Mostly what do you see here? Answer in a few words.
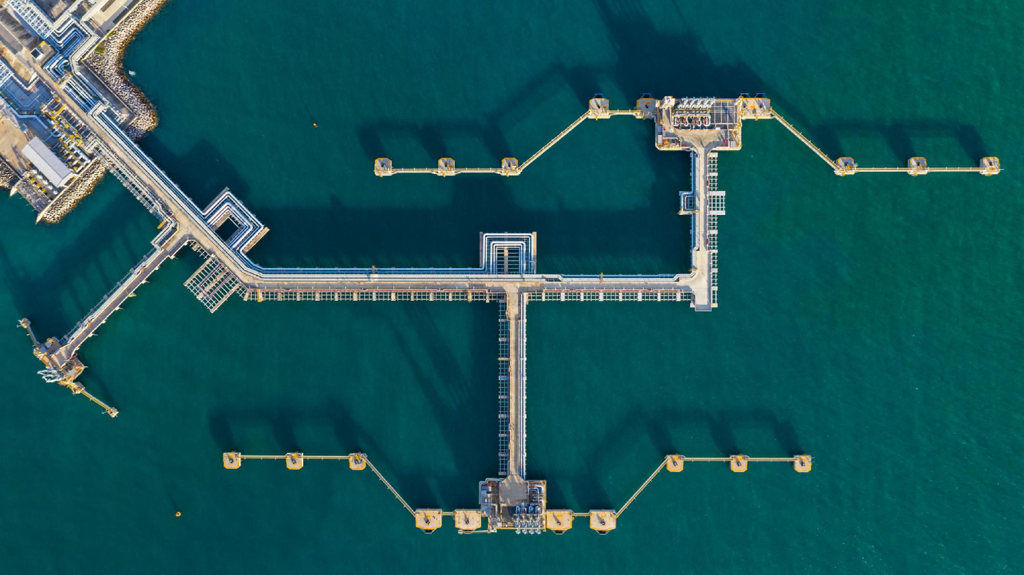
water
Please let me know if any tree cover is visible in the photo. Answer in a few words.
No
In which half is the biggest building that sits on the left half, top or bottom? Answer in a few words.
top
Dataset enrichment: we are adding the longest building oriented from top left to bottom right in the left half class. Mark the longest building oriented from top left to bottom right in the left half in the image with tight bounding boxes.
[22,137,77,188]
